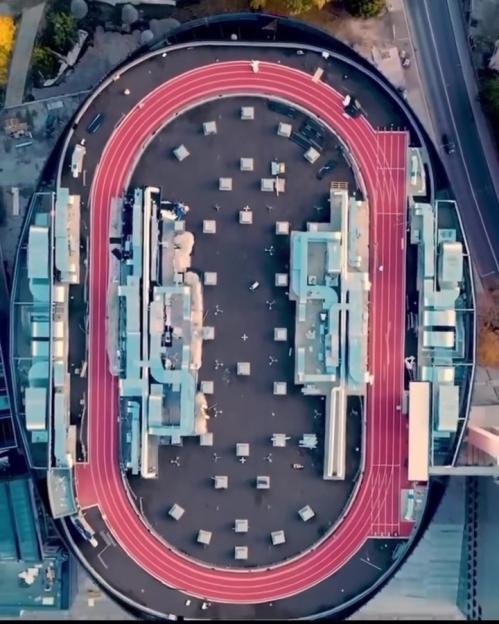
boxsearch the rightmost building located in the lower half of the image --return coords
[451,408,499,463]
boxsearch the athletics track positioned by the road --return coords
[76,60,415,604]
